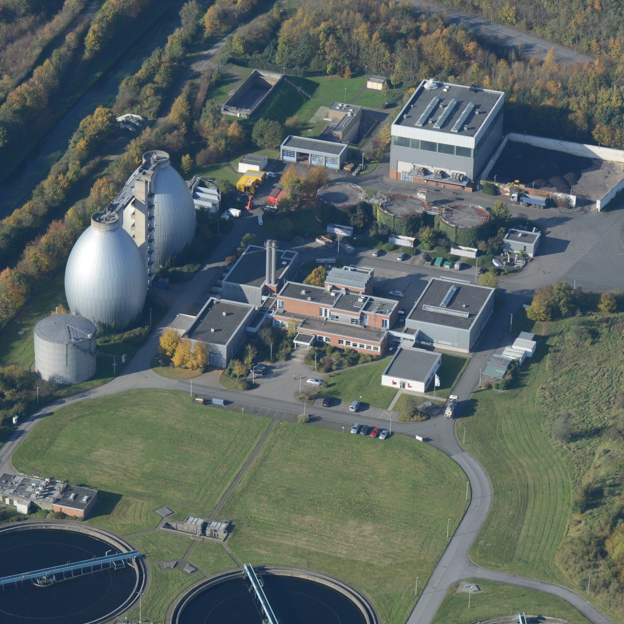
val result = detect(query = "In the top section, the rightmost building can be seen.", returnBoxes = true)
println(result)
[503,228,540,257]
